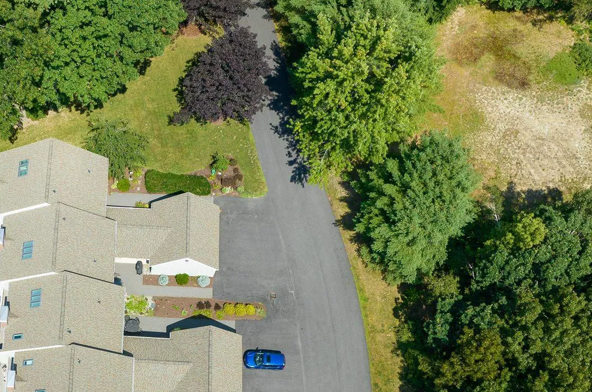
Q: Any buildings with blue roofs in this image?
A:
No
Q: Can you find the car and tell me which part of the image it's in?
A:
bottom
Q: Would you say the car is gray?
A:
No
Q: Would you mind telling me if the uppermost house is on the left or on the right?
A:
left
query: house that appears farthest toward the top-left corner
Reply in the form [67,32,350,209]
[0,138,110,229]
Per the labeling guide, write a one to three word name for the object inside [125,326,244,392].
building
